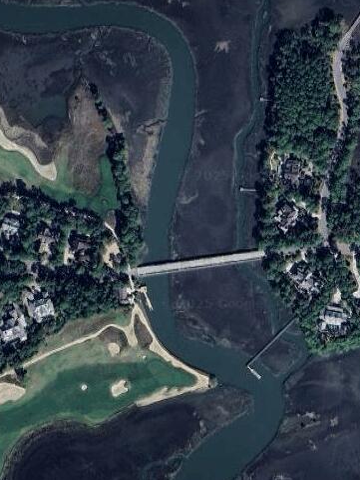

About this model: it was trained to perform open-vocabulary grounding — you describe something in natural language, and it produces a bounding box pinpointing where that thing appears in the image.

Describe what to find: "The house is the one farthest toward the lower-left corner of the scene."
[0,303,30,342]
